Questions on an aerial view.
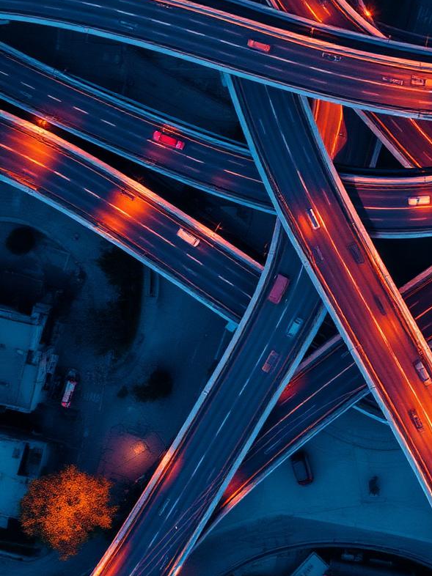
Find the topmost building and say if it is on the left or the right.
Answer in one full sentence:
It is on the left.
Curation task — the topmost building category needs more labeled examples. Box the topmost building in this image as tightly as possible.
[0,294,65,408]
